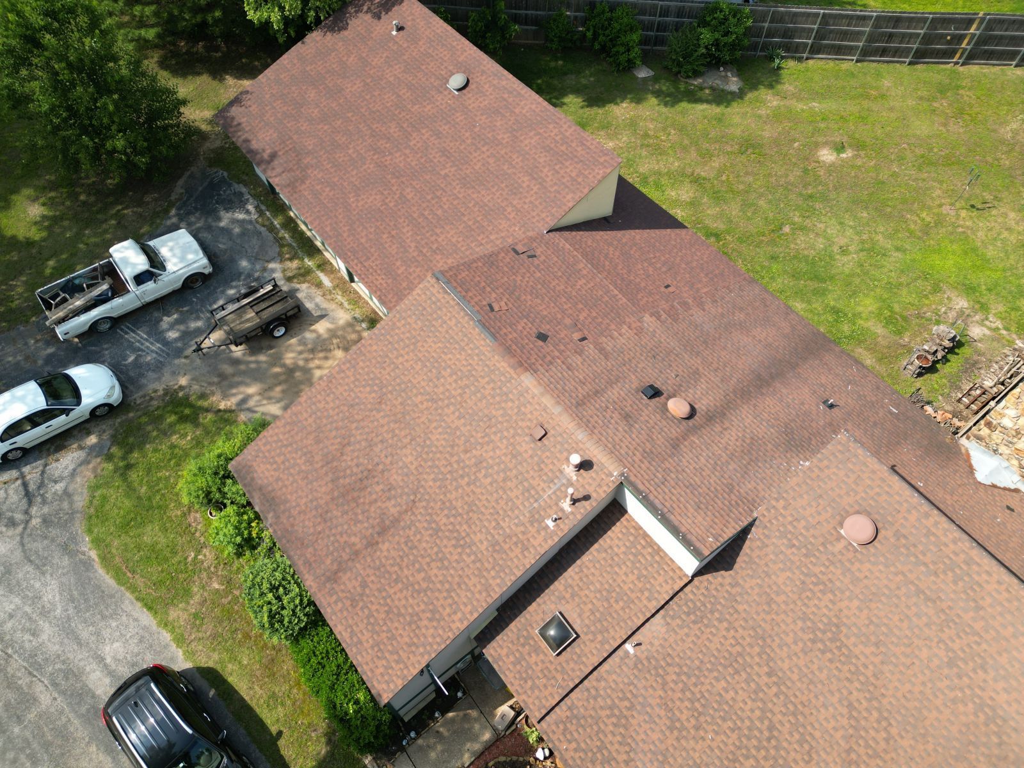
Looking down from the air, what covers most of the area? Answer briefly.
buildings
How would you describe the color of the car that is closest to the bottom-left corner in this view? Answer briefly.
black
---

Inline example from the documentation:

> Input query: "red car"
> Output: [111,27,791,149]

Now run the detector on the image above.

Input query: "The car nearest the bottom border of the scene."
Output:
[105,666,267,768]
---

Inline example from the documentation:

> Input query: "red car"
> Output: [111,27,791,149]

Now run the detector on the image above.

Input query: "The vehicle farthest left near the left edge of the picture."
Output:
[0,362,121,467]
